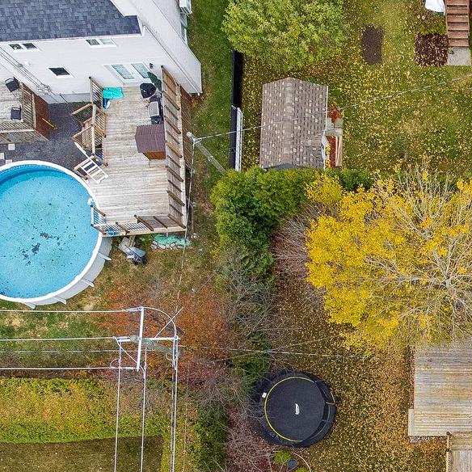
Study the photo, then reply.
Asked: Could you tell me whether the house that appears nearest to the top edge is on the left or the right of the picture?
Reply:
left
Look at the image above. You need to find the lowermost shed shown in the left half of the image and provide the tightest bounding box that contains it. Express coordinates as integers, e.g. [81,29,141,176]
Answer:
[134,129,167,160]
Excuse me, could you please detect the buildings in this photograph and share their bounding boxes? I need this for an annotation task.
[134,129,167,160]
[0,0,200,103]
[259,76,330,175]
